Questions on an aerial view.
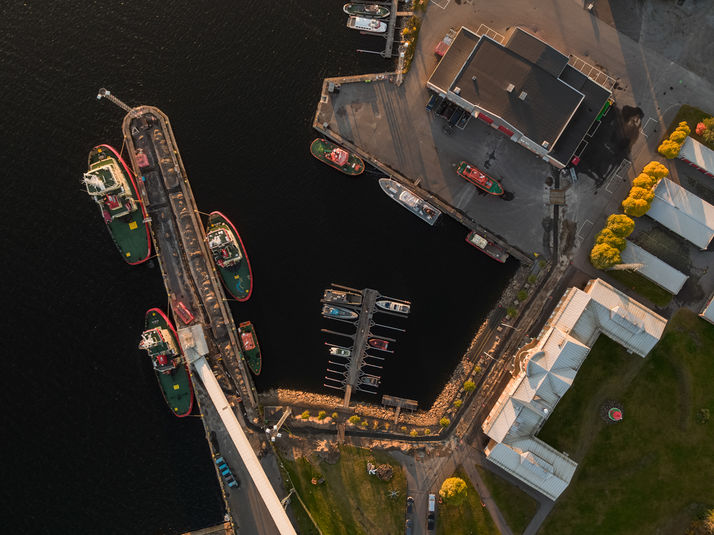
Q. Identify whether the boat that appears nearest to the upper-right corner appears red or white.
red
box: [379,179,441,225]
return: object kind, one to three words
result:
boat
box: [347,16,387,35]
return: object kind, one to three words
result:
boat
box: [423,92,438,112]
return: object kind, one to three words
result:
car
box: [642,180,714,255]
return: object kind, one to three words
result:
shed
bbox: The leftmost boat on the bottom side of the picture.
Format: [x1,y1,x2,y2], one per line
[137,306,196,418]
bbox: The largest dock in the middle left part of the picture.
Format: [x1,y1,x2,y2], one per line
[123,105,259,404]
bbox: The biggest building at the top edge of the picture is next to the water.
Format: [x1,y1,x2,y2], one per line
[425,25,612,169]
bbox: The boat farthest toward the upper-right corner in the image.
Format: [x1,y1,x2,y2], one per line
[457,162,504,194]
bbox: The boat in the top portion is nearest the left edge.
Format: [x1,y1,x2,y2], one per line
[83,144,153,266]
